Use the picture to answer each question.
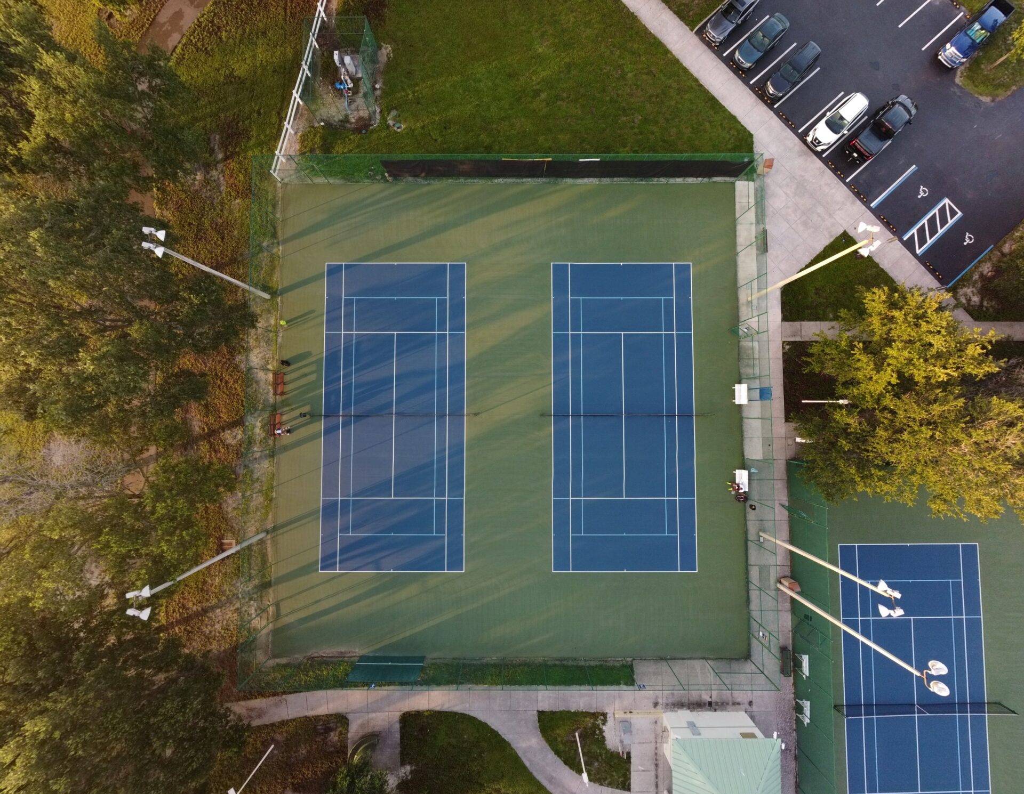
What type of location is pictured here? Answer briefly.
sports ground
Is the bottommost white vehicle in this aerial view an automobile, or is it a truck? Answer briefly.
automobile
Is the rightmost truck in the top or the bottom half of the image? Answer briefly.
top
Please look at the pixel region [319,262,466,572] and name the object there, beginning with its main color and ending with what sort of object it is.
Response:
blue tennis court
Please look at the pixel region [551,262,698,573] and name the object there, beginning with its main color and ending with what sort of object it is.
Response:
blue tennis court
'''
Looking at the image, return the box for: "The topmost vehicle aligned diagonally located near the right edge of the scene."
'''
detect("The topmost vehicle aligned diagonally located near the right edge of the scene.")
[933,0,1013,73]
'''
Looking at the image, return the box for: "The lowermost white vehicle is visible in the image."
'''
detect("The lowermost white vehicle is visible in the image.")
[807,92,873,154]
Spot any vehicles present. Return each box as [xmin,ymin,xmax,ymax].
[734,14,795,73]
[843,95,920,165]
[704,0,765,47]
[807,92,873,154]
[933,0,1013,73]
[765,43,828,106]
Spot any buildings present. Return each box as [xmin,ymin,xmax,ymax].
[663,711,787,794]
